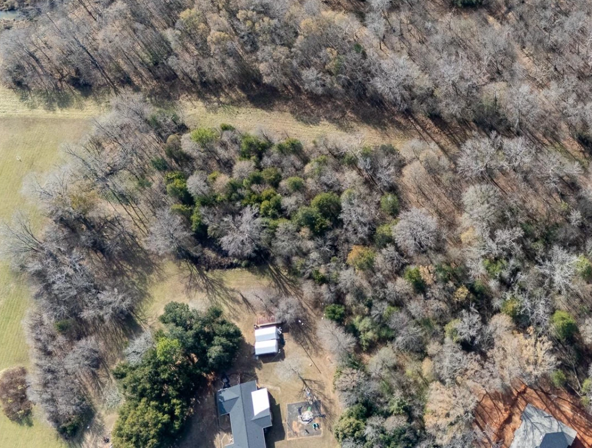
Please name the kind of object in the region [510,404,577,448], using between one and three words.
house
